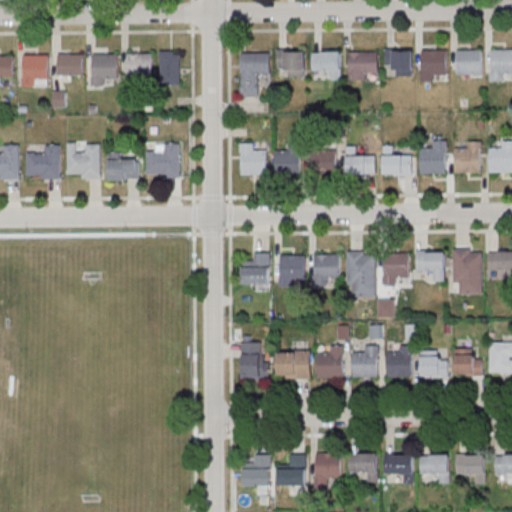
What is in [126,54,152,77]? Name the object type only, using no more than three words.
house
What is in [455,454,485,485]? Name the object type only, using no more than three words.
house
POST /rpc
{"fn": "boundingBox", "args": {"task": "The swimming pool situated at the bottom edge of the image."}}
[238,493,252,508]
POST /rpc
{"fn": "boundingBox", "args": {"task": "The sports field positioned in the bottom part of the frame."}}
[0,226,204,512]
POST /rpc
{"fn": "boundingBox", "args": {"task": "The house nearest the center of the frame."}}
[240,252,271,292]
